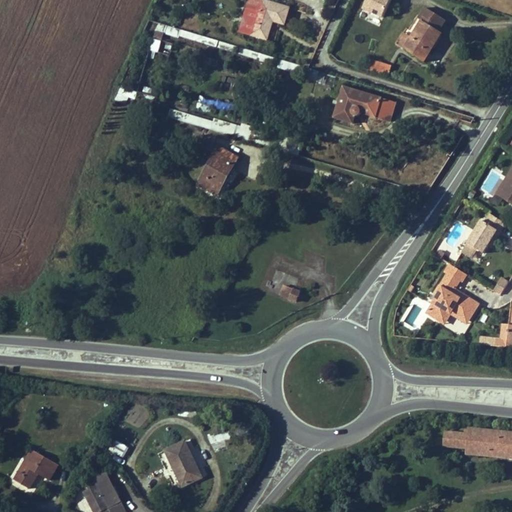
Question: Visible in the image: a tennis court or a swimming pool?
swimming pool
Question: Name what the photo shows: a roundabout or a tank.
roundabout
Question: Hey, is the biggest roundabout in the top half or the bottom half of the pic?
bottom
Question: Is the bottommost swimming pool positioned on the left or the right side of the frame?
right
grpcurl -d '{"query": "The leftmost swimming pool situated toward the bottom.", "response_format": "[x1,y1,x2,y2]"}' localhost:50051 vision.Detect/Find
[400,297,430,330]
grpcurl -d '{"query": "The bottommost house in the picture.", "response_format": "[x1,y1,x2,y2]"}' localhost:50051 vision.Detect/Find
[78,472,128,512]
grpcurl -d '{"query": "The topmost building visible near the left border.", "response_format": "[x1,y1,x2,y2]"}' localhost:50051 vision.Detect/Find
[10,451,58,492]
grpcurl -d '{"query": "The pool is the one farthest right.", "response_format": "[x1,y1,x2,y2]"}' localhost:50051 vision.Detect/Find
[480,168,503,198]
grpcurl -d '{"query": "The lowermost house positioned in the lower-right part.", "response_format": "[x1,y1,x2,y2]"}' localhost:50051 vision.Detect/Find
[442,428,512,460]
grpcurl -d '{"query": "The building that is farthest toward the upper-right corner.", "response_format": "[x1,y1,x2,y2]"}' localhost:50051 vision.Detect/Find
[395,7,446,64]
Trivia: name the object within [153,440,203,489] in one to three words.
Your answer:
house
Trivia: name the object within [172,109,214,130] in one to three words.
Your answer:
greenhouse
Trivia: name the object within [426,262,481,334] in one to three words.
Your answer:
house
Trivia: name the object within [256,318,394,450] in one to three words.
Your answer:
roundabout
